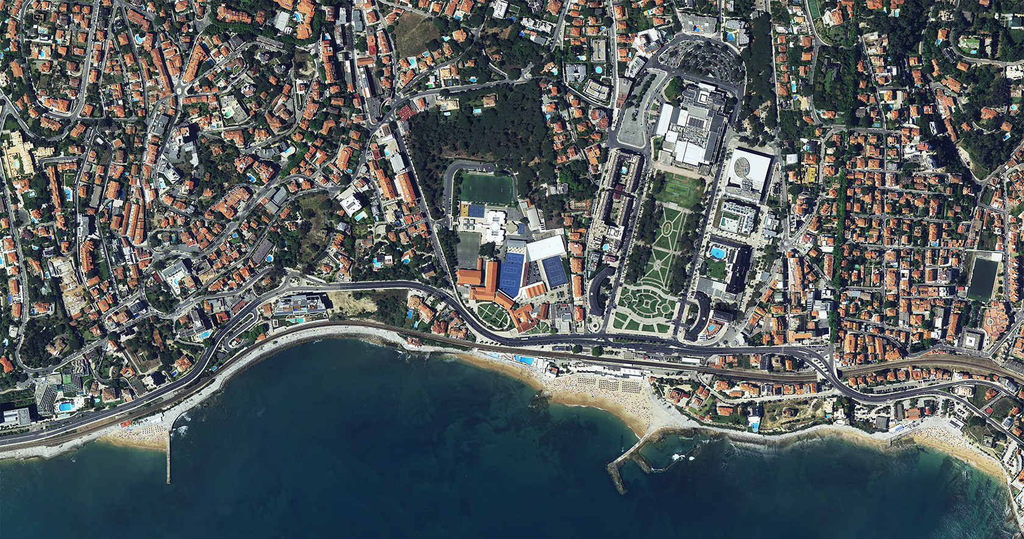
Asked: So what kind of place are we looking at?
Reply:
residential area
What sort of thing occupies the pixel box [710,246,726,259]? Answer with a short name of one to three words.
swimming pool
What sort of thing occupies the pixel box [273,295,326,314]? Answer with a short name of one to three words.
building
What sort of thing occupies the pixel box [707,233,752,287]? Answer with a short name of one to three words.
building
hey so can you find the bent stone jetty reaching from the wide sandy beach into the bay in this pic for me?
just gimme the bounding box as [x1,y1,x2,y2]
[607,431,650,493]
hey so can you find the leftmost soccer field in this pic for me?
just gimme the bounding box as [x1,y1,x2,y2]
[460,174,514,204]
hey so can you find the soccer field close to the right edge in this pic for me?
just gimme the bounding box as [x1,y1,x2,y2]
[967,256,1000,303]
